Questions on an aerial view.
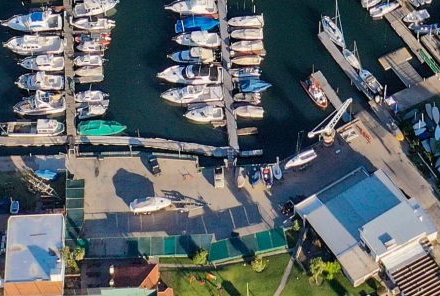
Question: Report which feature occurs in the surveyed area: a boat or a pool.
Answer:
boat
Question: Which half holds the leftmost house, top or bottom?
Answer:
bottom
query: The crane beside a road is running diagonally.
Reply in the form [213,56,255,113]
[304,99,352,146]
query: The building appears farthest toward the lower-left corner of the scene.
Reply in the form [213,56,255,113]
[3,212,67,296]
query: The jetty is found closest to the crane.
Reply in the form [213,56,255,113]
[305,70,345,115]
